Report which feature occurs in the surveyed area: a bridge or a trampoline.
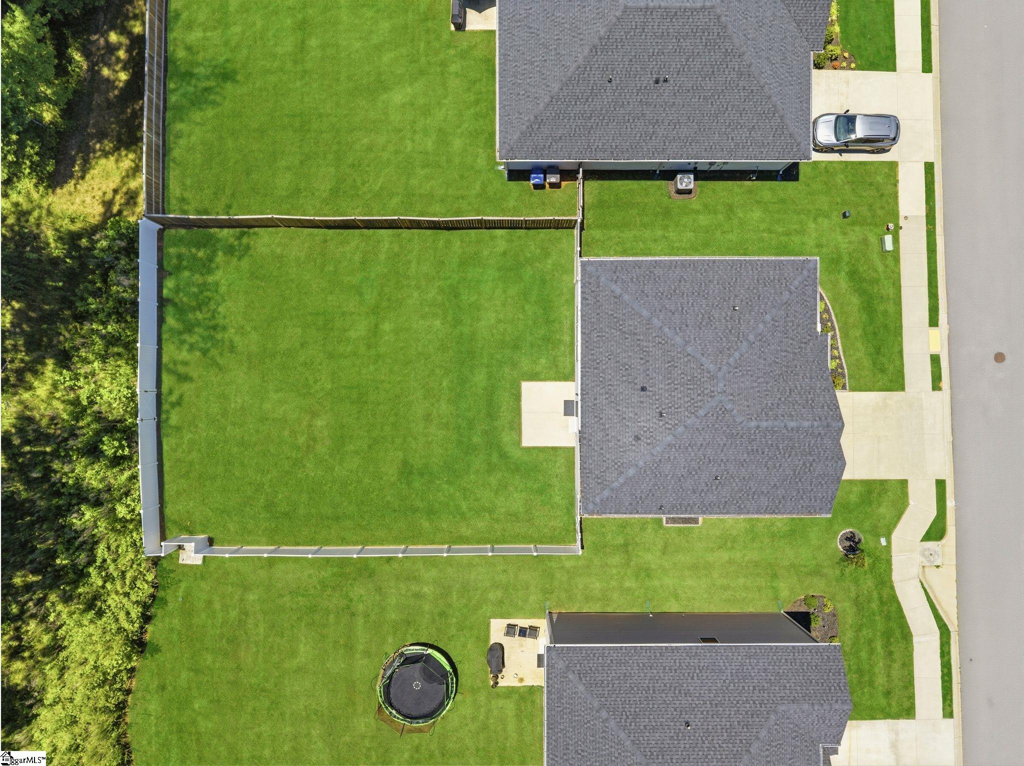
trampoline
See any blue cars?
No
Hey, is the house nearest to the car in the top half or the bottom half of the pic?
top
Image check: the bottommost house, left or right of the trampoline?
to its right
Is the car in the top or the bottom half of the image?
top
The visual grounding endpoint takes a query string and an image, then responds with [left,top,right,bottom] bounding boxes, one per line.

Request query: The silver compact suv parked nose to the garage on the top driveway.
[814,106,902,152]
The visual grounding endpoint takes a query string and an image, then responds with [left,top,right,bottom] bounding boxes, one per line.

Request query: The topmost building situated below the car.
[574,256,847,518]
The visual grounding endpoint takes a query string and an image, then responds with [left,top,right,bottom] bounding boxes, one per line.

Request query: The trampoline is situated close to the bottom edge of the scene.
[370,639,464,739]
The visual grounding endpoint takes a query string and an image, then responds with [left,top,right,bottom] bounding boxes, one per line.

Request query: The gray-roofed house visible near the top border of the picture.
[494,0,833,175]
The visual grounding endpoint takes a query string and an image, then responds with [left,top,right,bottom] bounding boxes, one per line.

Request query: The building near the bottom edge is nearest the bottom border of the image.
[542,608,854,766]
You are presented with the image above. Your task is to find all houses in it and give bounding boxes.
[542,608,854,766]
[494,0,833,175]
[574,256,847,518]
